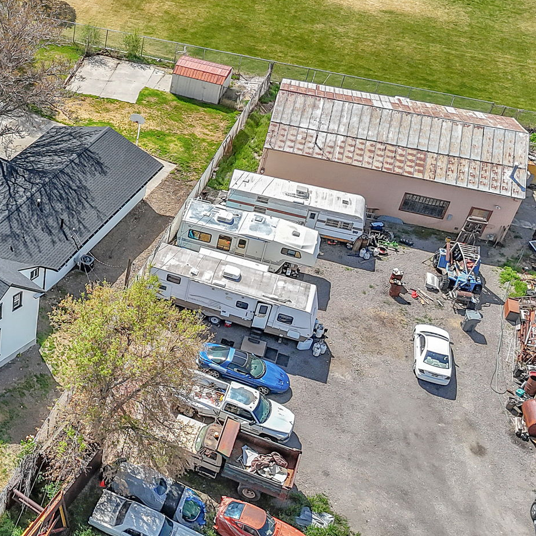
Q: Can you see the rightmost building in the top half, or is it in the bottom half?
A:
top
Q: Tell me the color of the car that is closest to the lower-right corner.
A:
white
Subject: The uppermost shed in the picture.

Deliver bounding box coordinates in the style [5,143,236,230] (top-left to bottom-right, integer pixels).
[170,54,233,104]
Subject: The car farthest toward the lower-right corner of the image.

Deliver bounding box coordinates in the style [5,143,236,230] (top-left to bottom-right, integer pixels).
[411,321,459,390]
